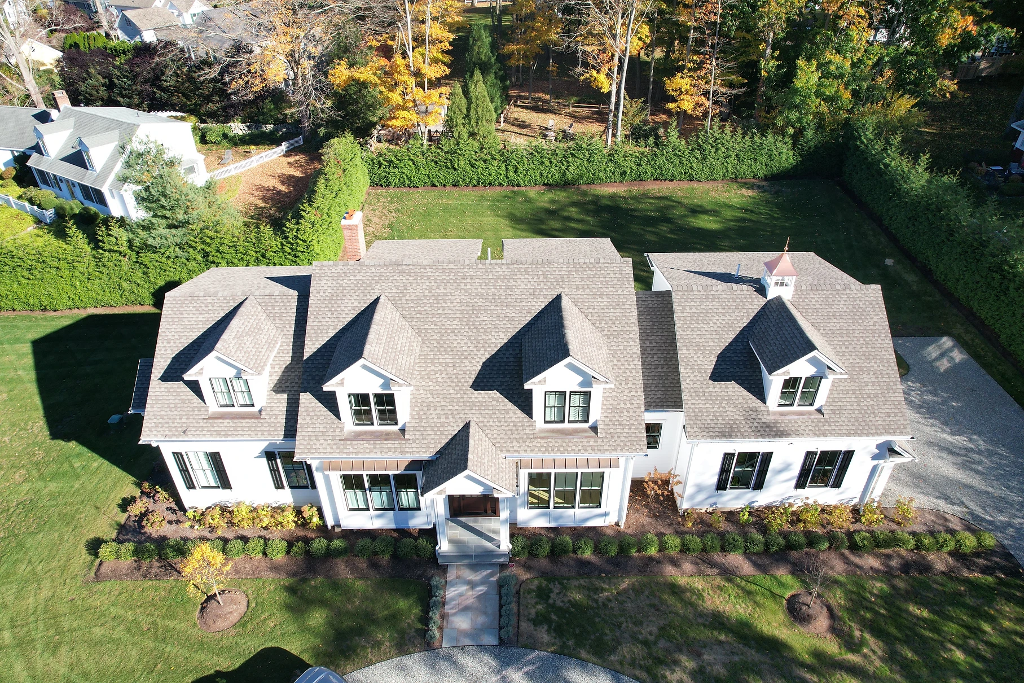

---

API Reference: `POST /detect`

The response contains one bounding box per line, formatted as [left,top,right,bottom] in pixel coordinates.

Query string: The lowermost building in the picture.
[125,212,925,564]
